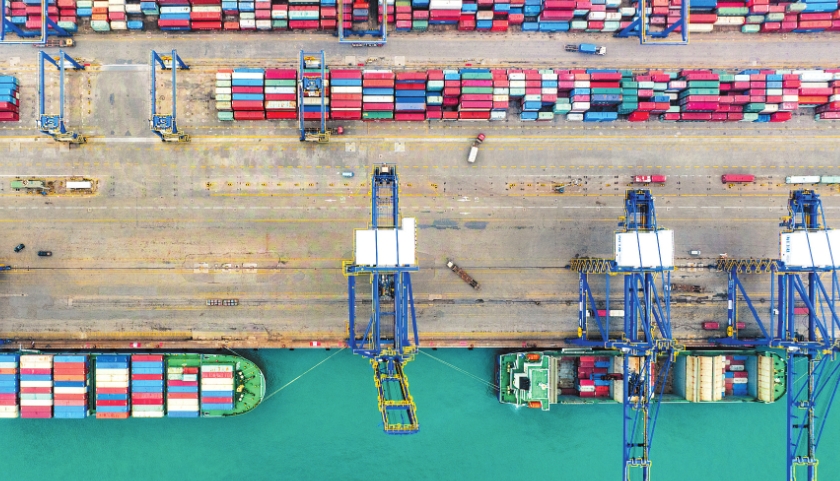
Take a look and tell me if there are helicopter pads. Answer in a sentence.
No, the scene contains no helicopter pad.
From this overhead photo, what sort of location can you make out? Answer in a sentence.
What you see here is a port.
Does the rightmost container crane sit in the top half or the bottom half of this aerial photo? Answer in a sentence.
Seen from above, the rightmost container crane lies in the bottom half of the view.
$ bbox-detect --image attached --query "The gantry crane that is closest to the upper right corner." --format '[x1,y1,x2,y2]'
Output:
[618,0,687,44]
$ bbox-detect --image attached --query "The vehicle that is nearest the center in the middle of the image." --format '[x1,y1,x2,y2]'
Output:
[445,259,478,289]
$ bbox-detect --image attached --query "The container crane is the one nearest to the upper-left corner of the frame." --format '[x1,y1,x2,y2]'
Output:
[1,0,69,44]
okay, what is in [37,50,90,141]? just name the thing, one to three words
container crane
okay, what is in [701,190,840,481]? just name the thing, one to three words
container crane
